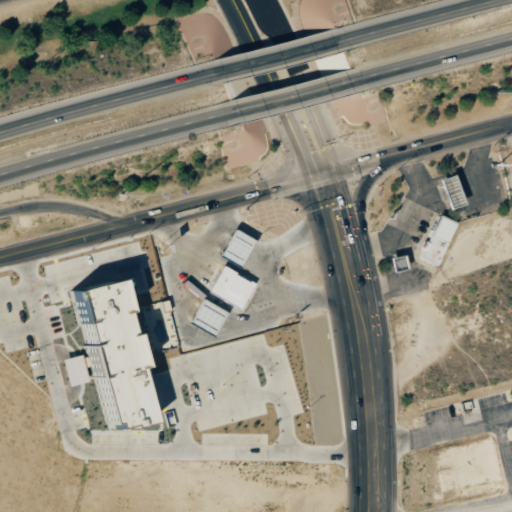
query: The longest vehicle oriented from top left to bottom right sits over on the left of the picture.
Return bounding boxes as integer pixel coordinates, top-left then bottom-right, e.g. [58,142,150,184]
[176,274,205,302]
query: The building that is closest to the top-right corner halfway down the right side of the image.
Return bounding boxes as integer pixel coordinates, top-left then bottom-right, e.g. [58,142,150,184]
[427,216,459,242]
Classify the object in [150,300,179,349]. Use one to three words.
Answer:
building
